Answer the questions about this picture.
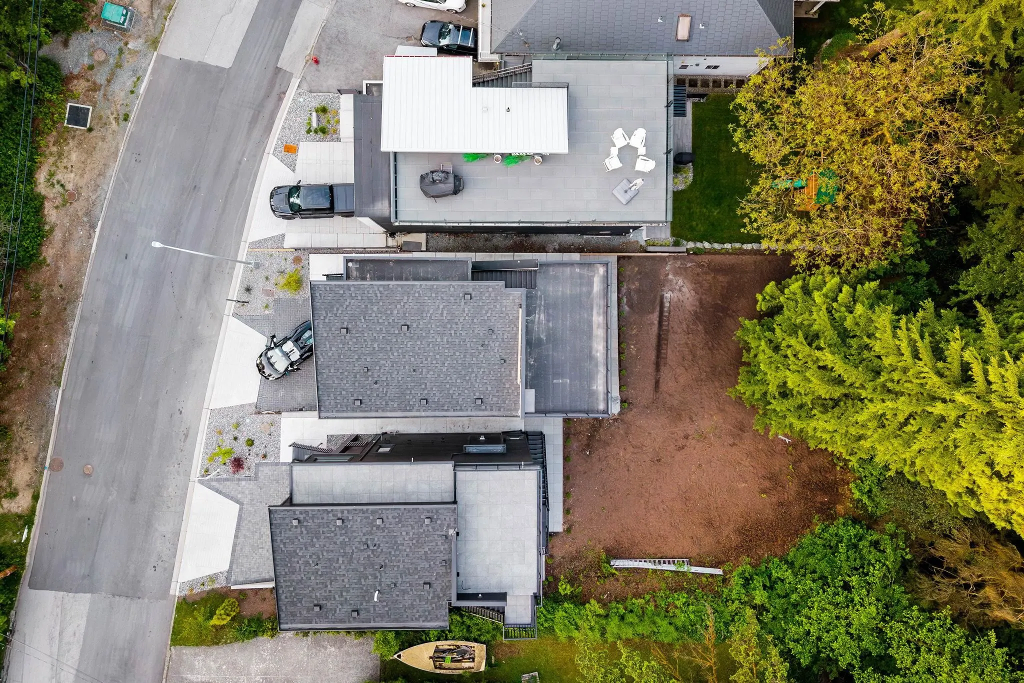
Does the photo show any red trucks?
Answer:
No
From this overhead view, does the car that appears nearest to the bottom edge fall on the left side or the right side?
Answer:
left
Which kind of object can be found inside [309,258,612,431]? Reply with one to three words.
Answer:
house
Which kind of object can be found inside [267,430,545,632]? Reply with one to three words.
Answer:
house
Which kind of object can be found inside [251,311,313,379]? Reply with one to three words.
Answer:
car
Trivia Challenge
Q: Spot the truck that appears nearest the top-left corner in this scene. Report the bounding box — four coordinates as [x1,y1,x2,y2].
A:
[269,179,367,223]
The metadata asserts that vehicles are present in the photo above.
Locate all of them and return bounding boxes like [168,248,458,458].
[251,311,313,379]
[393,0,468,17]
[420,17,485,67]
[269,179,367,223]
